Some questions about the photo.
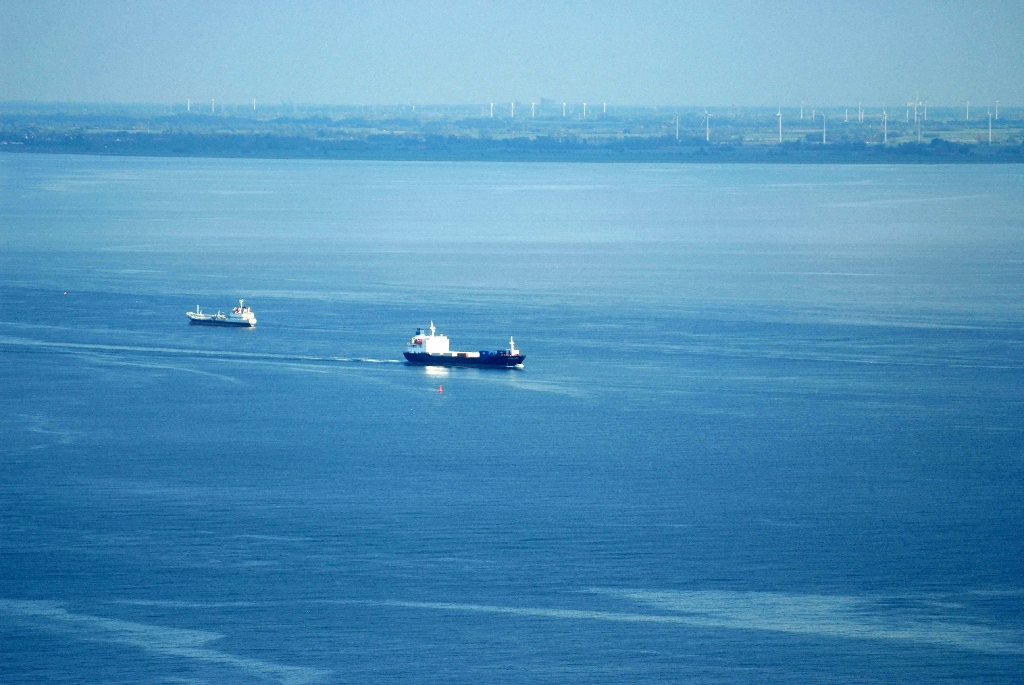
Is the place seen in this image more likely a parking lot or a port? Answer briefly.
port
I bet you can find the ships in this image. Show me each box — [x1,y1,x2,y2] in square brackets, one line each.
[403,324,527,367]
[187,300,255,327]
